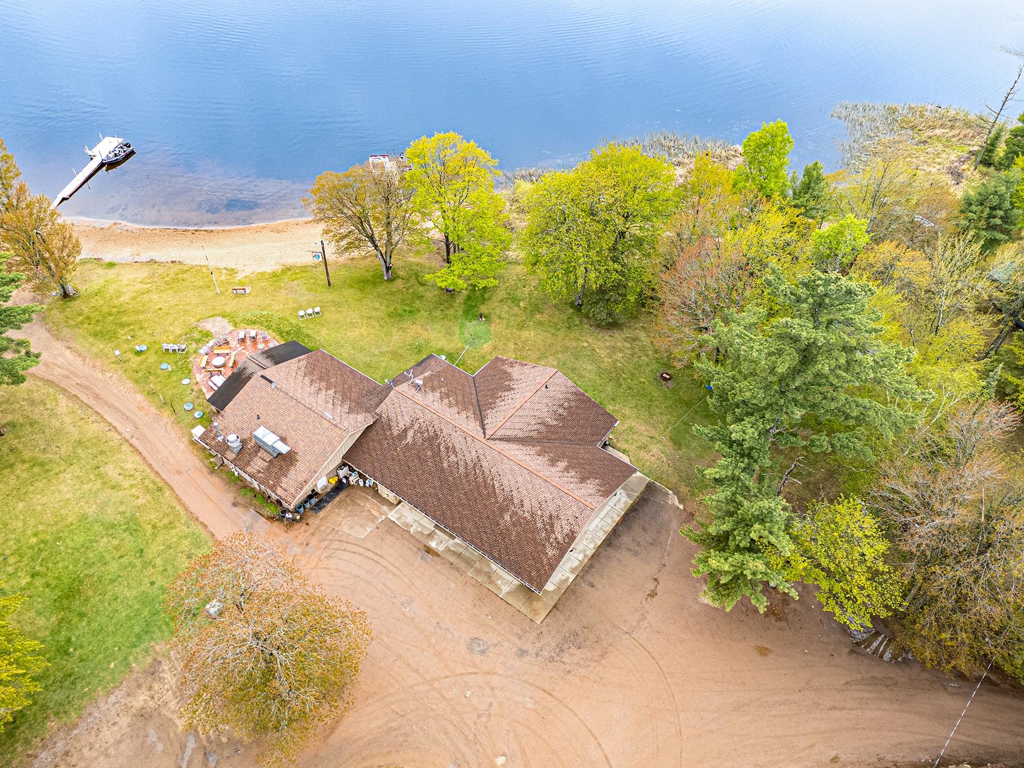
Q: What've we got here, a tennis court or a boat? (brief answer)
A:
boat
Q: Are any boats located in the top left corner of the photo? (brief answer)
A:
Yes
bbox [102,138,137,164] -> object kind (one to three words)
boat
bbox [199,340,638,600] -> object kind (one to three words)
building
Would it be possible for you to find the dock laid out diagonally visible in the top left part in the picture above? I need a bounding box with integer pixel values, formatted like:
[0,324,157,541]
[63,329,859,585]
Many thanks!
[51,132,124,210]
